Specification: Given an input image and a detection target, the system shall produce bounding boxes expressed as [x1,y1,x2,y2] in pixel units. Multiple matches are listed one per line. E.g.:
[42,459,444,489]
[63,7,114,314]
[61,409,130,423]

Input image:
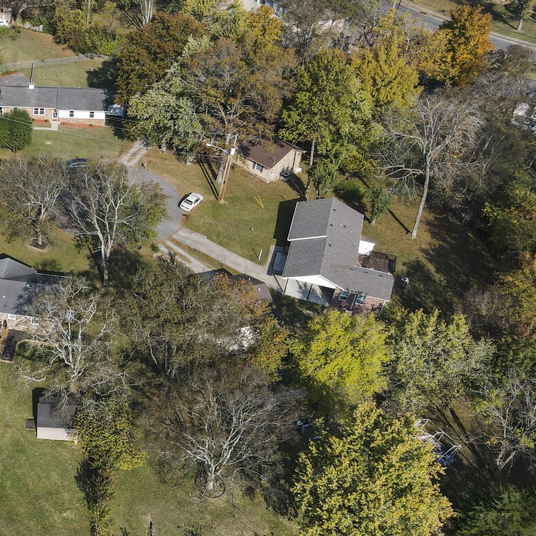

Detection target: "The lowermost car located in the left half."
[178,191,206,209]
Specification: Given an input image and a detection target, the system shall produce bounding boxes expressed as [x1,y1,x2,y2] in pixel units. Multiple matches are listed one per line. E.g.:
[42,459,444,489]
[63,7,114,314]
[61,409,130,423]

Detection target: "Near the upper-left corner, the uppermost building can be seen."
[0,53,113,125]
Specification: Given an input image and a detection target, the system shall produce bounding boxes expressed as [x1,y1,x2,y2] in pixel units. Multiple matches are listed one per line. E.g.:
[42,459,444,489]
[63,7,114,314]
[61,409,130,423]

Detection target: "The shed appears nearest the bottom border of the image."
[25,395,76,442]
